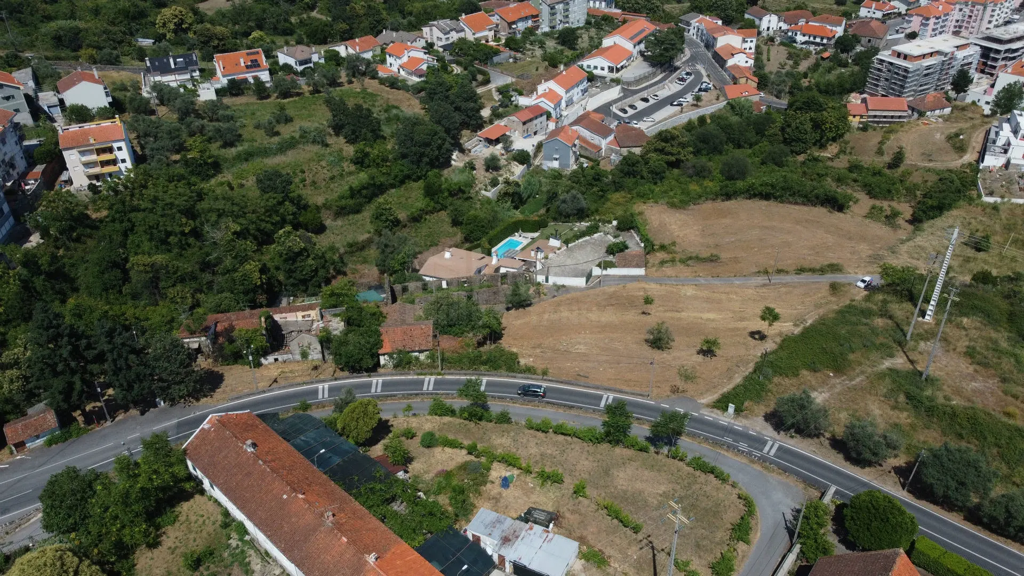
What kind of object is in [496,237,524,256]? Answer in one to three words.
swimming pool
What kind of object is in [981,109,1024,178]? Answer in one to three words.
house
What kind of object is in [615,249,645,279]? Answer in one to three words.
building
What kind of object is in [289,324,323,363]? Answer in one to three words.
house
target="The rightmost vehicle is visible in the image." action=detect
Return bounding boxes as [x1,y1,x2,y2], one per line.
[855,273,876,288]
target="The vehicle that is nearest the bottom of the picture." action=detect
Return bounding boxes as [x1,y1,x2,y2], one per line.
[517,384,547,400]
